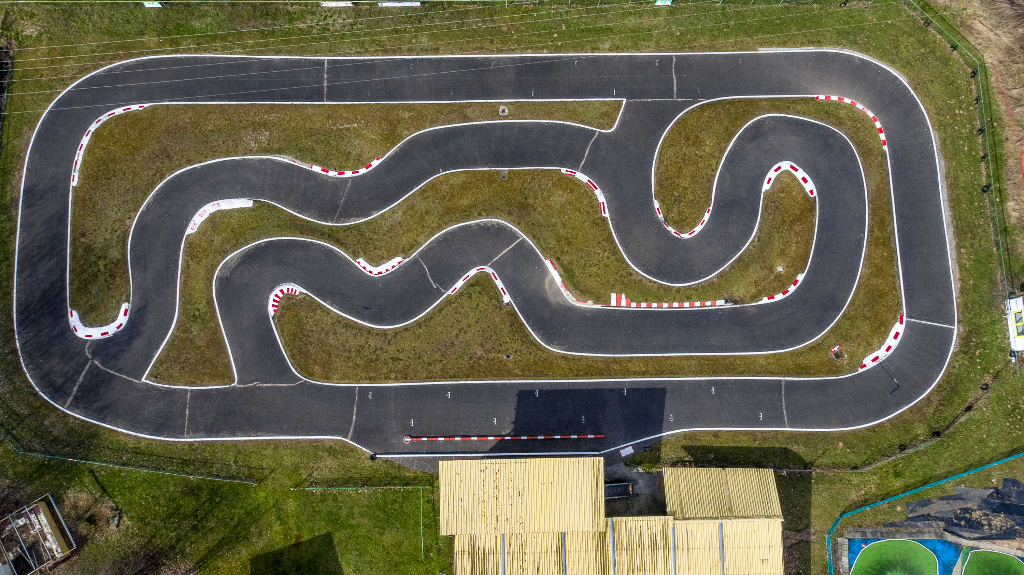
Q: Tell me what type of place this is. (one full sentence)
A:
What you see here is a sports ground.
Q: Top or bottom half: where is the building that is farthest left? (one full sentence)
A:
It is in the bottom half that the building that is farthest left appears.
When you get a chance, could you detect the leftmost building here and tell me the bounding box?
[439,457,605,535]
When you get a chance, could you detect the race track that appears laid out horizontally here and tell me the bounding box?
[13,49,957,474]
